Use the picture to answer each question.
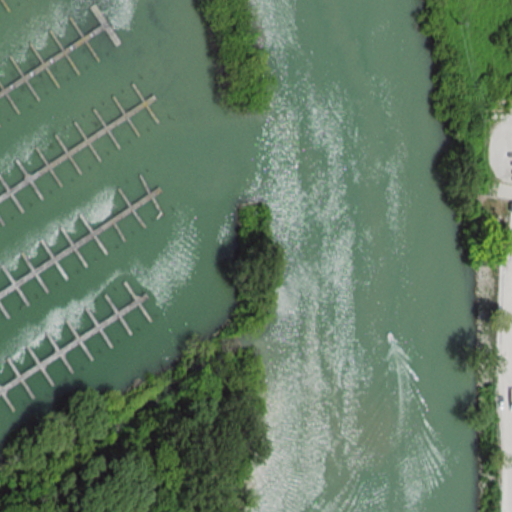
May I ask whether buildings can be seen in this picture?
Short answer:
No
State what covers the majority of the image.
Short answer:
water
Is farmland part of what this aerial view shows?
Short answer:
No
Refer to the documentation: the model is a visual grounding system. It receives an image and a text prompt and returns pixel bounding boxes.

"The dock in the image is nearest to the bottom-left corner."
[0,282,152,412]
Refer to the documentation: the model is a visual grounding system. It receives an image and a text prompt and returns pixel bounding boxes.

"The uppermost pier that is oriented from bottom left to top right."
[0,6,121,114]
